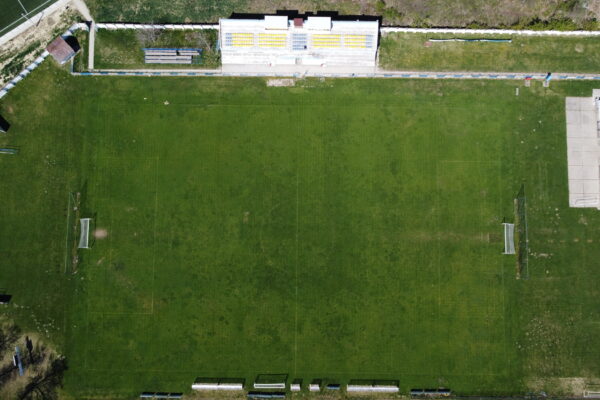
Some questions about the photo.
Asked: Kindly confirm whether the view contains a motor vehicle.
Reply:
No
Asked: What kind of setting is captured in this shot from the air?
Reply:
sports ground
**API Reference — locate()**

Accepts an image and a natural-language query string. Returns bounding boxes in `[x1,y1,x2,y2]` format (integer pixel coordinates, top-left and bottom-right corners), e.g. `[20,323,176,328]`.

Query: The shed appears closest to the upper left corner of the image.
[47,36,78,66]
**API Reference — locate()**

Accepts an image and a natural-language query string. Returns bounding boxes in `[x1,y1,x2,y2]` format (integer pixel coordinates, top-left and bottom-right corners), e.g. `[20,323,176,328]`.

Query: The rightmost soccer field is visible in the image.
[62,90,521,391]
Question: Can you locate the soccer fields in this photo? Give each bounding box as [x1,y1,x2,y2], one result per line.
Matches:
[0,0,68,46]
[62,90,521,391]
